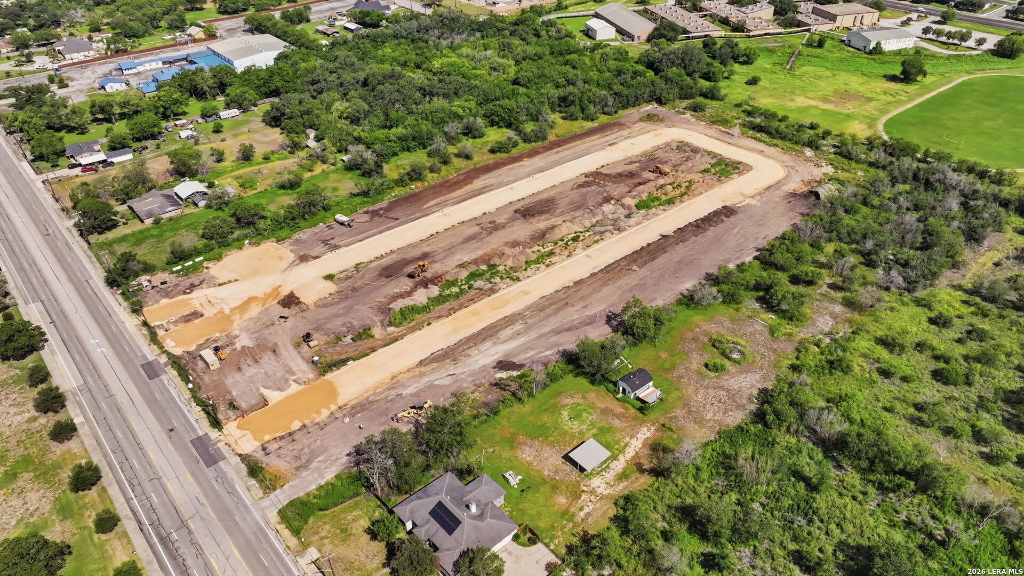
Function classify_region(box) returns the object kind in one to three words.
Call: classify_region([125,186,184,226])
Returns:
house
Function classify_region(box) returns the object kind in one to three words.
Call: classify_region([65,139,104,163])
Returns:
house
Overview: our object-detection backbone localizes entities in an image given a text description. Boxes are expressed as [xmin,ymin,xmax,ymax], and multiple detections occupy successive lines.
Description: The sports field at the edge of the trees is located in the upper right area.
[887,77,1024,166]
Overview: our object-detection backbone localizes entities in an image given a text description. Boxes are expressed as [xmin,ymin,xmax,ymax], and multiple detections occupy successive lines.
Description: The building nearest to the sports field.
[842,28,921,52]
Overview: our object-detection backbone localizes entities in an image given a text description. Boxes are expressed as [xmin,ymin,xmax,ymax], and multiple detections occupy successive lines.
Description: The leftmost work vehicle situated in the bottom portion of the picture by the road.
[210,343,228,361]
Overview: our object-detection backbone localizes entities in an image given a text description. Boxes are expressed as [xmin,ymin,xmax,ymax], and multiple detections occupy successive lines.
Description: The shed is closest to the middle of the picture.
[618,368,653,399]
